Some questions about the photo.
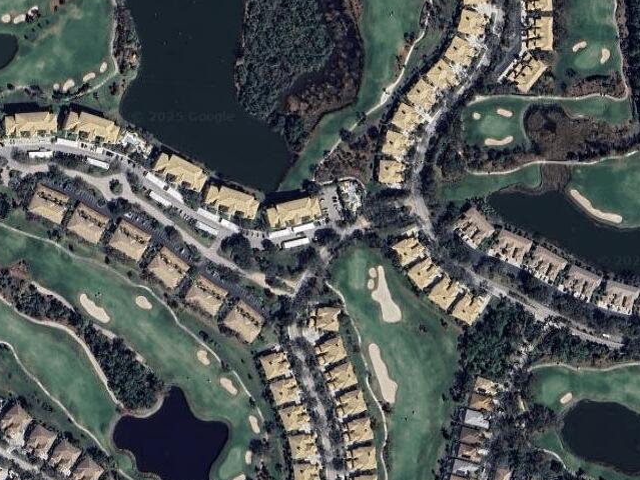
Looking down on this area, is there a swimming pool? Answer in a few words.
Yes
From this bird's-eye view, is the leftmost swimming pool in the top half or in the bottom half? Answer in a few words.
top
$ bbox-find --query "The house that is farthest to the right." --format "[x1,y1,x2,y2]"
[601,280,639,310]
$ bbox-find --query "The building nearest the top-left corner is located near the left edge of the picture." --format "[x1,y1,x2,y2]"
[3,110,58,136]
